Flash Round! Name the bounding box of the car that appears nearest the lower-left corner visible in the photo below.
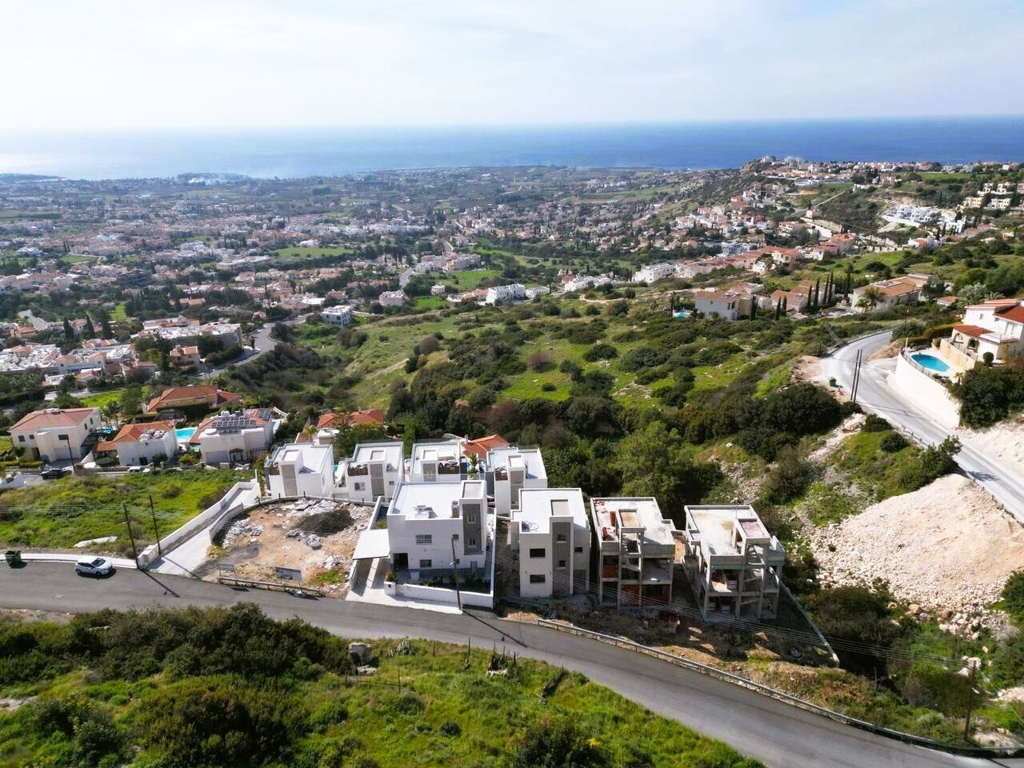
[71,557,115,579]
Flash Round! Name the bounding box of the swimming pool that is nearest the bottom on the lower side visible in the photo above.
[375,497,394,520]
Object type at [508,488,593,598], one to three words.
house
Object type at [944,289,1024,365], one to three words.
house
